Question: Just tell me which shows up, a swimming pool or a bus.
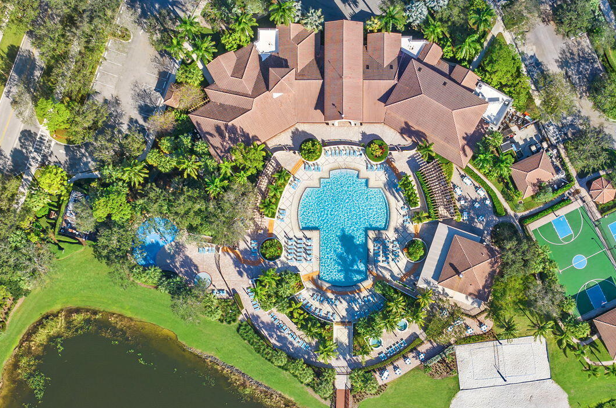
swimming pool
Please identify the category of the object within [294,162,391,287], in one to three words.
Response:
swimming pool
